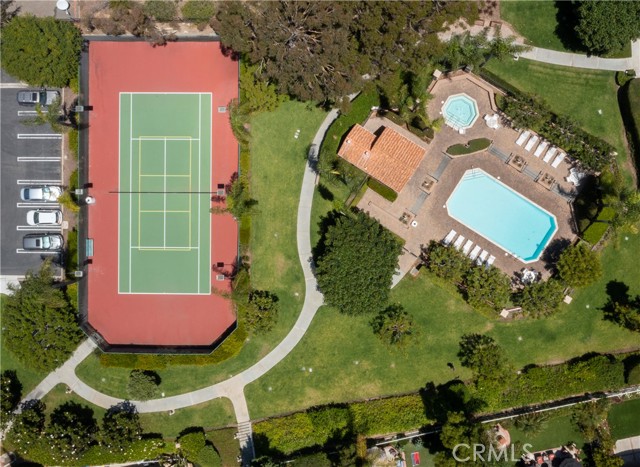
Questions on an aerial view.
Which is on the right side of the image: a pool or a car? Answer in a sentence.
The feature located on the right side of the image is a pool.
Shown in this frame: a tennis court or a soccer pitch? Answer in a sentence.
This aerial view contains a tennis court.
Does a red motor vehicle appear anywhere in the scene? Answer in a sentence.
No, the scene contains no red motor vehicle.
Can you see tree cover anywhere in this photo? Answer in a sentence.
Yes, the picture does contain tree cover.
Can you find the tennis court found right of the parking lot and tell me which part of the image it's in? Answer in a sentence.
The tennis court found right of the parking lot appears toward the left of the photo.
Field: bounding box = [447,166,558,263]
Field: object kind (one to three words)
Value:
swimming pool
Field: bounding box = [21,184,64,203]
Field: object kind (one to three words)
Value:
car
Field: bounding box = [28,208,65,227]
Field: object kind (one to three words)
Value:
car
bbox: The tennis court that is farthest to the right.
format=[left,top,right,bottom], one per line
[88,43,239,349]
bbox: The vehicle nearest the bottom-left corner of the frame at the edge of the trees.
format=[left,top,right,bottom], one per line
[22,232,66,252]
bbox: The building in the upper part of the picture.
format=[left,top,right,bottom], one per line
[338,123,426,193]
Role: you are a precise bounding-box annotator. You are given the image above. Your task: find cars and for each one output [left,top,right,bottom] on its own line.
[21,184,64,203]
[22,232,66,252]
[16,87,62,108]
[28,208,65,227]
